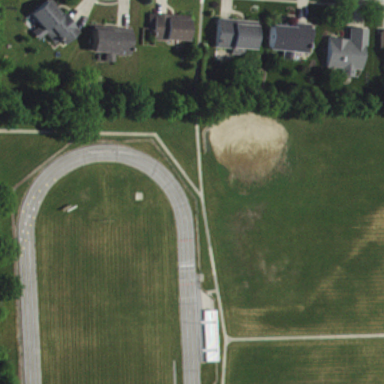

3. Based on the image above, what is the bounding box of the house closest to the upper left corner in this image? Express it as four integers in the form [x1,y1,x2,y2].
[32,0,86,44]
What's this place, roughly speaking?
sports ground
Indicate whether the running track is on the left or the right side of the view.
left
